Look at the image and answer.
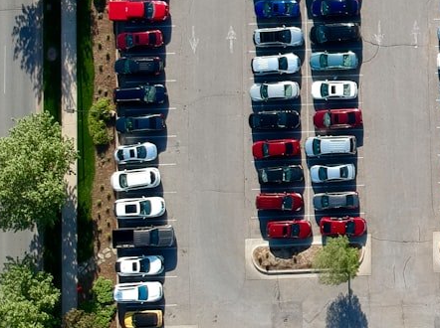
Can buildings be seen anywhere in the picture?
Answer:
No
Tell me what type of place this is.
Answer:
parking lot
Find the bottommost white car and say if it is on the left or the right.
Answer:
left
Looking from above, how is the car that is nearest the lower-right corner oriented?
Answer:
from left to right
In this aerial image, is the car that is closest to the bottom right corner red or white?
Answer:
red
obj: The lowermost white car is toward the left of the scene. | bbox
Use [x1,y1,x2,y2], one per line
[113,280,164,304]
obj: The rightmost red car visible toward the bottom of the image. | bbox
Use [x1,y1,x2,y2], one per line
[320,216,366,238]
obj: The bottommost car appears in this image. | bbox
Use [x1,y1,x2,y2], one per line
[125,309,164,328]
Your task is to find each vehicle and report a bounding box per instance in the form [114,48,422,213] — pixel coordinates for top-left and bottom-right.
[253,138,301,159]
[110,224,175,248]
[251,51,301,74]
[311,163,355,184]
[113,280,164,304]
[256,191,303,213]
[313,192,359,212]
[320,216,366,238]
[114,143,159,163]
[111,169,162,191]
[249,108,301,131]
[311,51,359,72]
[255,0,300,19]
[118,30,164,50]
[267,219,312,241]
[306,135,356,158]
[106,0,171,22]
[253,24,303,47]
[312,80,358,101]
[114,196,167,219]
[310,22,360,45]
[116,255,165,277]
[125,309,164,328]
[114,53,165,75]
[112,83,168,104]
[314,108,363,129]
[251,81,300,103]
[258,163,303,184]
[117,112,167,134]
